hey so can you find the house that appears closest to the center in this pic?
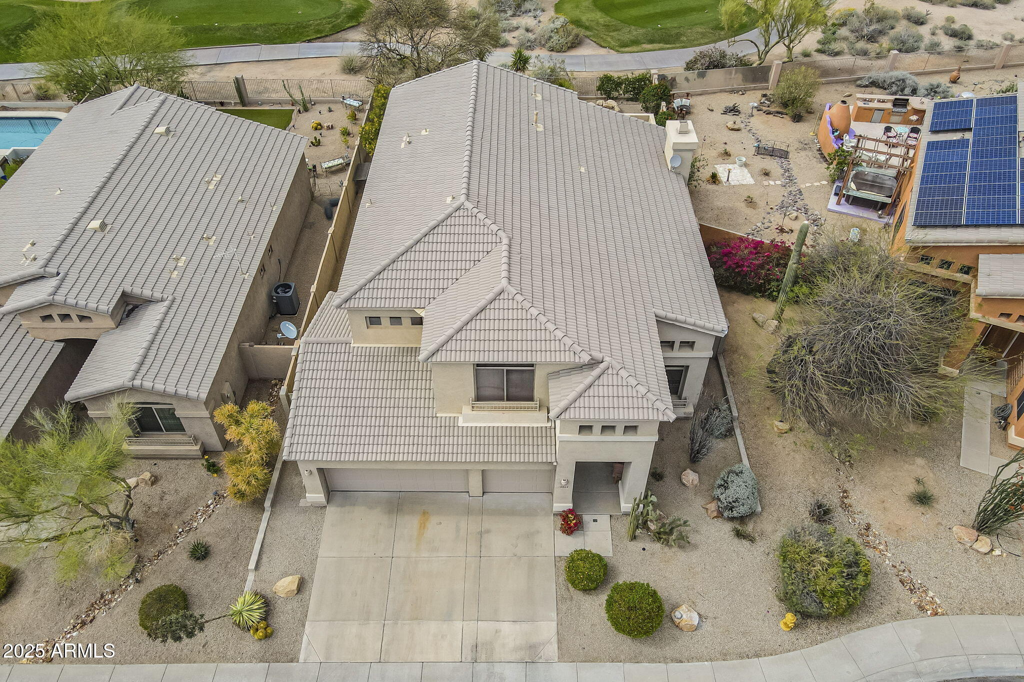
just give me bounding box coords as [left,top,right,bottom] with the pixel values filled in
[279,56,731,514]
